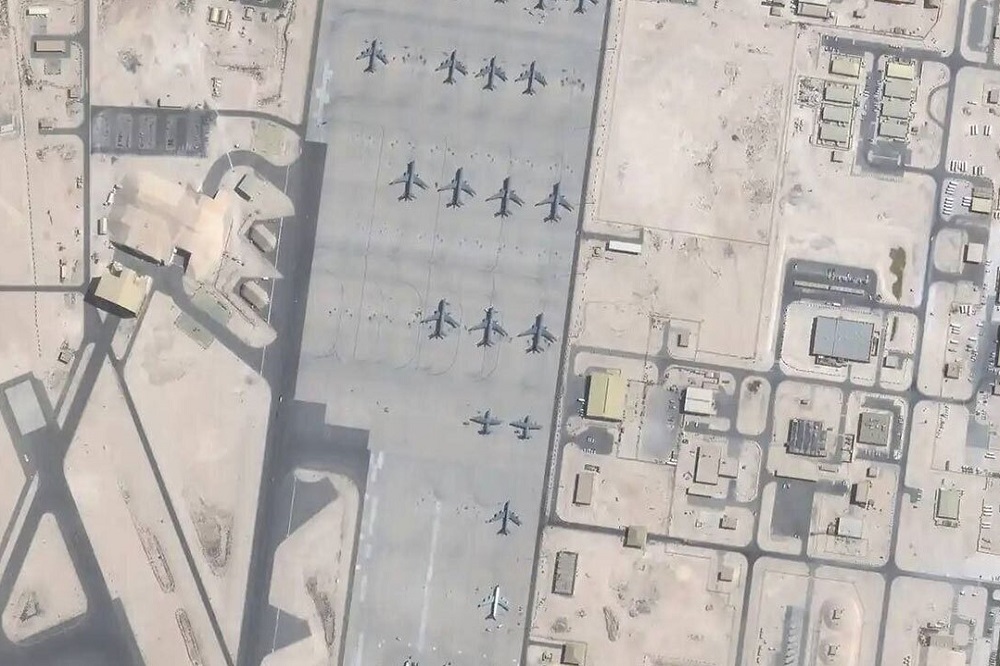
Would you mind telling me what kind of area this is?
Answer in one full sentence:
What you see here is an airport.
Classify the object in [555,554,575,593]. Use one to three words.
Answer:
building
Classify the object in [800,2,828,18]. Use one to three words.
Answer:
building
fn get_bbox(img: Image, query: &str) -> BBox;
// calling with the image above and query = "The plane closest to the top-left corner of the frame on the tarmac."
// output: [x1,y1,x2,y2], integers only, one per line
[359,38,391,71]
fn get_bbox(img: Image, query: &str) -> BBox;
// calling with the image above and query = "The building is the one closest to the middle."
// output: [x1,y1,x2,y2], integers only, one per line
[585,371,626,419]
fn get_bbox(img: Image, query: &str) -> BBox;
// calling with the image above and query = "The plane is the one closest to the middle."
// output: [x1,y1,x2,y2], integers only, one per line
[472,306,510,346]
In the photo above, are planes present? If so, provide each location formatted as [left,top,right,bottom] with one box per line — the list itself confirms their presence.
[489,175,527,215]
[512,416,541,439]
[492,500,522,534]
[538,0,549,8]
[479,55,509,88]
[481,585,512,619]
[518,60,549,93]
[441,165,479,205]
[438,48,470,82]
[472,306,510,346]
[359,38,391,71]
[539,180,576,220]
[474,410,503,434]
[394,158,432,198]
[521,312,560,352]
[423,297,461,337]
